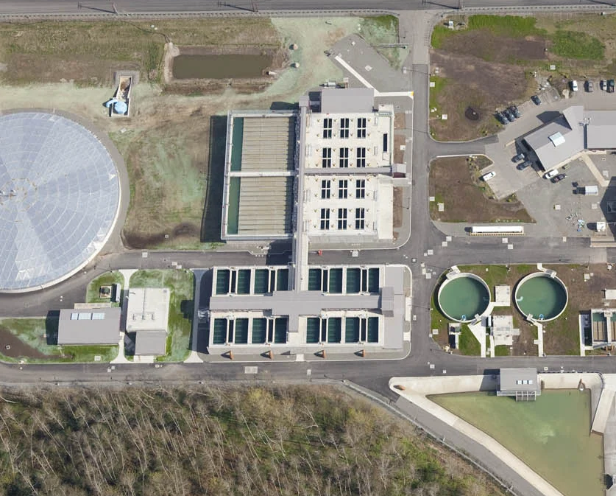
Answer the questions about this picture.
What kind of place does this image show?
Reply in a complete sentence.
The area seen from above is an industrial area.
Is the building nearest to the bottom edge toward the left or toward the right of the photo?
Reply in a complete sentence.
The building nearest to the bottom edge sits on the right side.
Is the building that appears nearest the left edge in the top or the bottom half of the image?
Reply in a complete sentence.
It is in the bottom half that the building that appears nearest the left edge appears.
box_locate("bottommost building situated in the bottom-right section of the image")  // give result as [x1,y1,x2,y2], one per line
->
[497,368,541,403]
